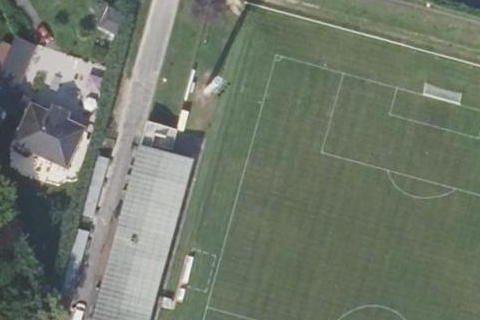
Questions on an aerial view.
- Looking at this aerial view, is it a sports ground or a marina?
sports ground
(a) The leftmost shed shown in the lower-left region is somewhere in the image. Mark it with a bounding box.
[62,229,89,295]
